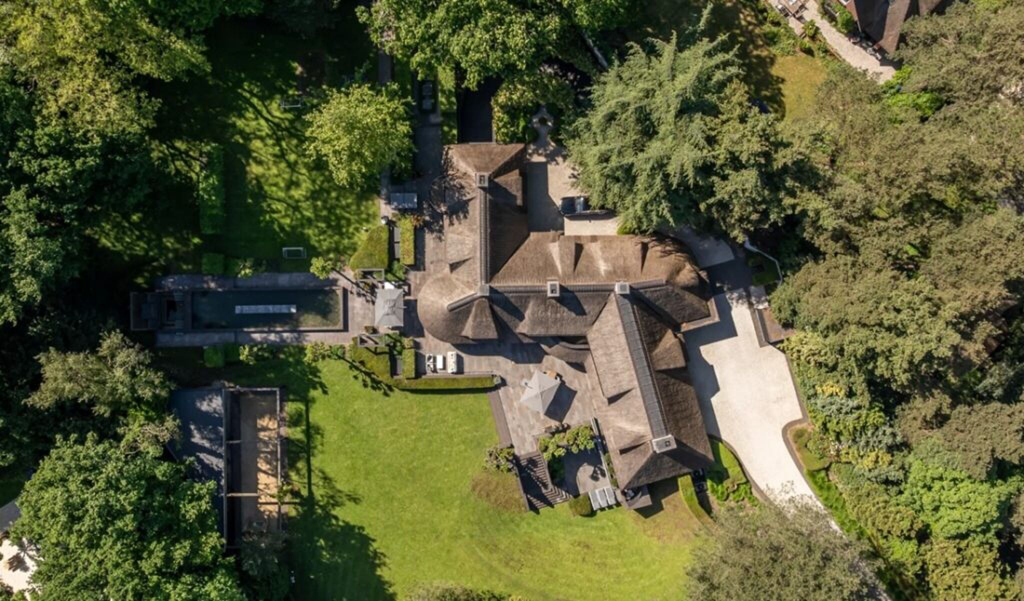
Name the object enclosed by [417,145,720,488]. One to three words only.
house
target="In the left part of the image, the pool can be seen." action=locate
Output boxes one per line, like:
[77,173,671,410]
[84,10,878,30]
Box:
[186,286,348,332]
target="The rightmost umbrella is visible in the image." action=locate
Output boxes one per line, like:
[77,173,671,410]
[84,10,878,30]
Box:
[521,370,561,414]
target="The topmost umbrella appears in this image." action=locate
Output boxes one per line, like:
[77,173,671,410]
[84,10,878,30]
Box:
[375,289,404,326]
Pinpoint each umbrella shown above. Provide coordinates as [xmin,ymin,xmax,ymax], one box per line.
[521,370,561,414]
[375,289,404,326]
